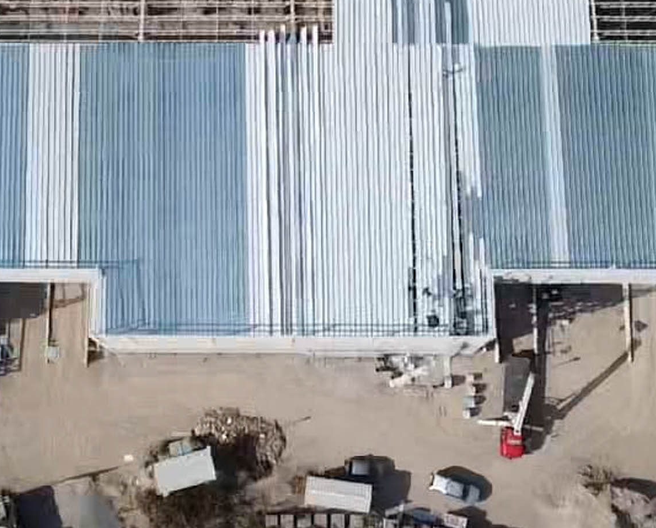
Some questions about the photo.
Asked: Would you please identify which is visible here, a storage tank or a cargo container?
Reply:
cargo container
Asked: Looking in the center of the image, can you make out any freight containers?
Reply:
No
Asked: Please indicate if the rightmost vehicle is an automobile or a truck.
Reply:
truck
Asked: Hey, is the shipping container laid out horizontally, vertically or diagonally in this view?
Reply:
horizontally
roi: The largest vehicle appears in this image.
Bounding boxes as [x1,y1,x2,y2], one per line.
[473,352,541,459]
